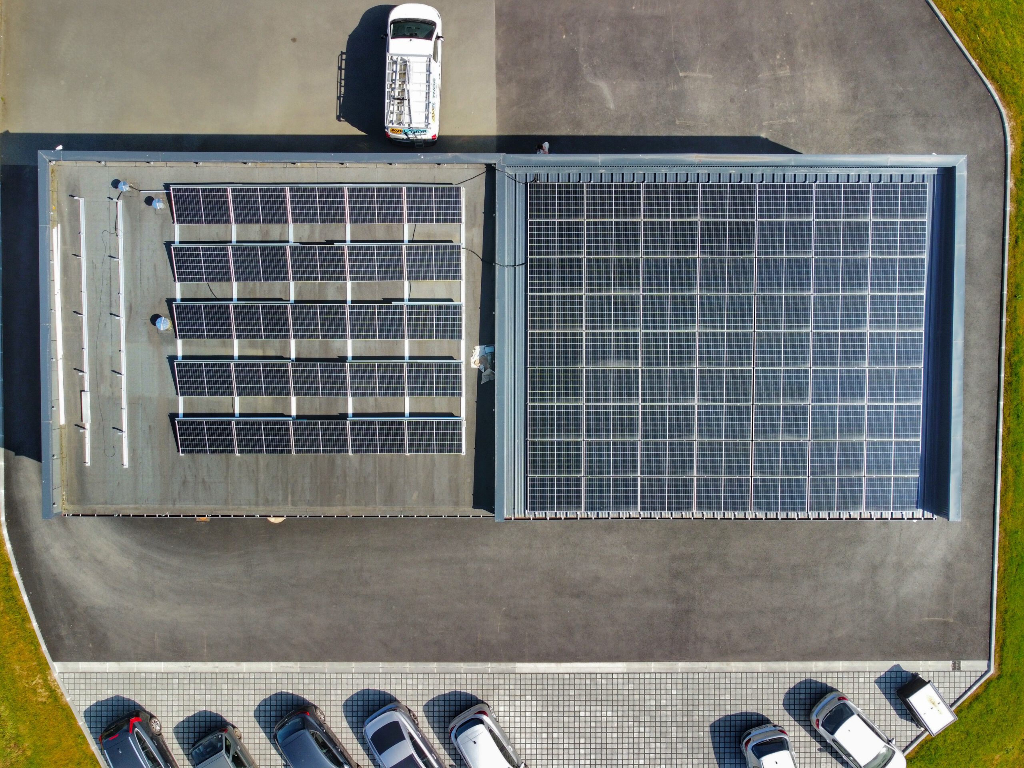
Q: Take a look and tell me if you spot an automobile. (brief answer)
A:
Yes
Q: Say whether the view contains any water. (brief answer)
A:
No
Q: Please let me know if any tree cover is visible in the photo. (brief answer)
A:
No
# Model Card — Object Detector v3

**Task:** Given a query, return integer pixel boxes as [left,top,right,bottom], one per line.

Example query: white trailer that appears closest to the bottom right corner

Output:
[896,673,957,736]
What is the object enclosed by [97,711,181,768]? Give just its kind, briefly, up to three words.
car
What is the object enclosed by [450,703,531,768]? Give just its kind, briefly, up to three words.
car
